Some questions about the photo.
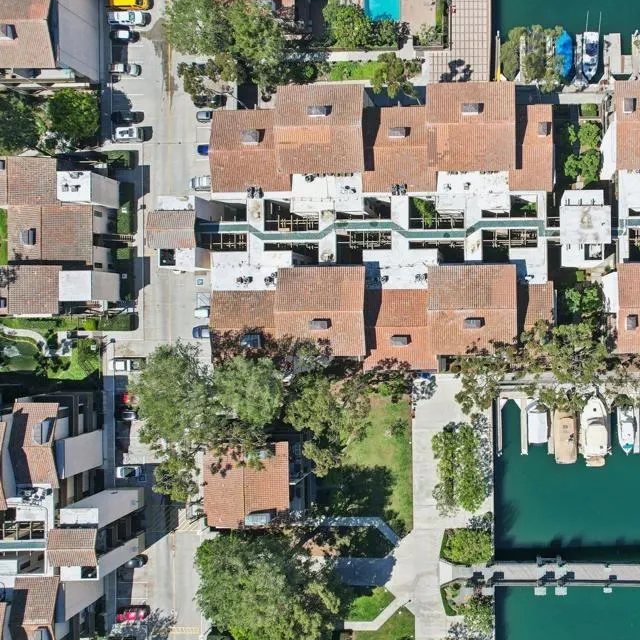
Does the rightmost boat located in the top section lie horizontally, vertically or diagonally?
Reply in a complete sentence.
I'd say the rightmost boat located in the top section is aligned vertically in the picture.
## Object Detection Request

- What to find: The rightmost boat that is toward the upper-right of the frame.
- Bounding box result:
[581,21,601,80]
